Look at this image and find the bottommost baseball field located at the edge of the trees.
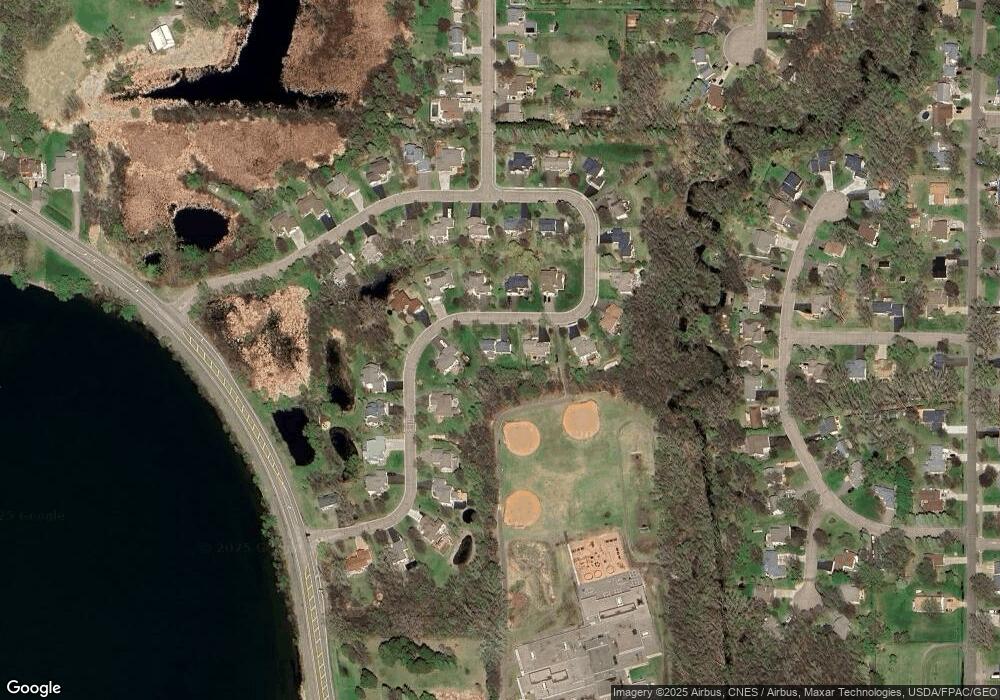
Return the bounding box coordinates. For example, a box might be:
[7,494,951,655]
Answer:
[502,489,541,528]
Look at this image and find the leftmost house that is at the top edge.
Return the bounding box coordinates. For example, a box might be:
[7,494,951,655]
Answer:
[149,26,173,54]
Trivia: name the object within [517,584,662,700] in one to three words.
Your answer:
building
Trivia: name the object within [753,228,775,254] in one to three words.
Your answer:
house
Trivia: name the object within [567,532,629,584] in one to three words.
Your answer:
playground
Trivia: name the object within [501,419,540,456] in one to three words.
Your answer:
baseball field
